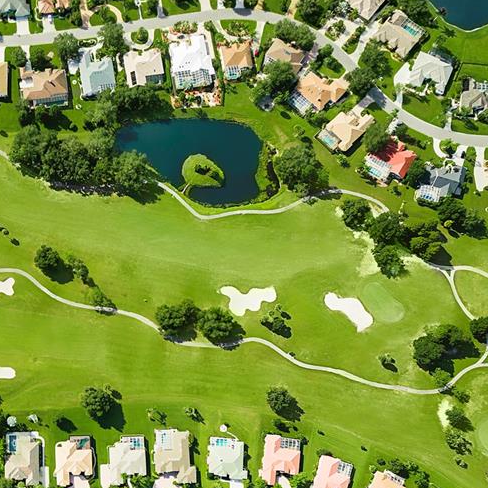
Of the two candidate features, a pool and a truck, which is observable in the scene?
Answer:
pool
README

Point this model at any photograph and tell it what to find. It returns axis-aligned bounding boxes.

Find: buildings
[0,65,9,98]
[170,34,215,91]
[287,74,348,115]
[457,82,488,119]
[262,435,300,485]
[6,431,40,485]
[38,0,73,16]
[348,0,386,20]
[362,140,414,183]
[220,40,253,82]
[56,444,92,487]
[405,47,452,93]
[312,454,354,488]
[411,166,466,205]
[109,435,146,484]
[124,48,164,88]
[374,9,425,59]
[78,51,116,95]
[364,468,406,488]
[208,438,247,479]
[20,68,67,104]
[154,429,197,483]
[325,112,374,149]
[0,0,31,18]
[254,39,305,72]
